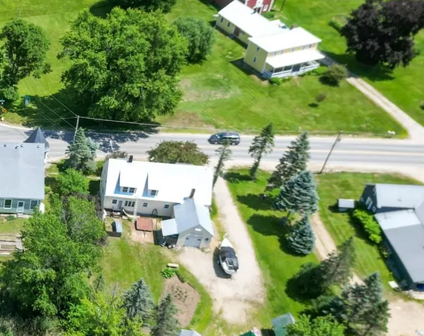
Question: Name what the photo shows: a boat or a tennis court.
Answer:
boat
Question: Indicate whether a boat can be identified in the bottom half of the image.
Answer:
Yes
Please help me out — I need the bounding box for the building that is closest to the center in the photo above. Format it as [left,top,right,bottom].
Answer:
[102,147,218,248]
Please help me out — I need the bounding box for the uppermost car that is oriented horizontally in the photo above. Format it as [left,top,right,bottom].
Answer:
[208,130,243,146]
